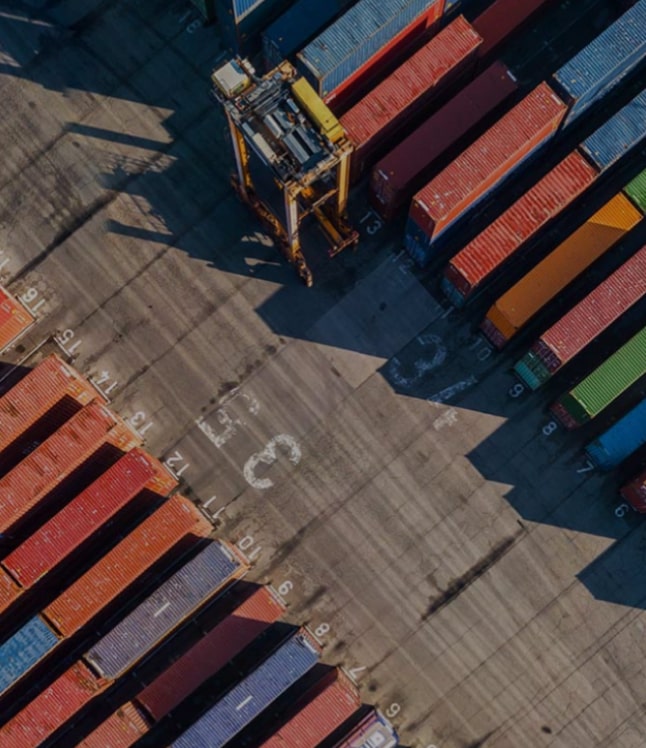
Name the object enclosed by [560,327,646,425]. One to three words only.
shipping container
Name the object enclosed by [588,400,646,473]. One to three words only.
shipping container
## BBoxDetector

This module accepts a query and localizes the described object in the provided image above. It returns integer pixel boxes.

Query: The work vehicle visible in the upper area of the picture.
[205,41,365,278]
